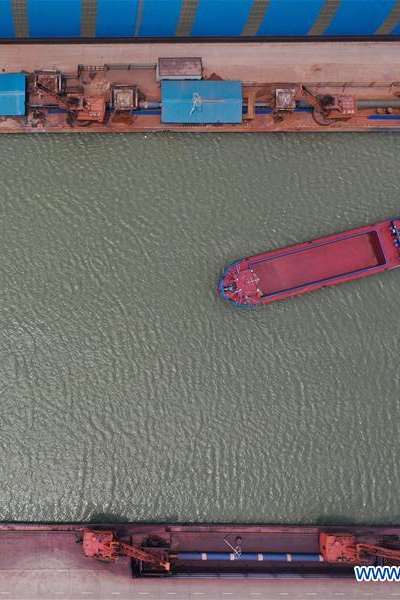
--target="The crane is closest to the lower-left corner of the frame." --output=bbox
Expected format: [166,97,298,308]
[77,523,171,570]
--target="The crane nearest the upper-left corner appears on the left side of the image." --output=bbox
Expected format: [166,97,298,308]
[33,80,106,125]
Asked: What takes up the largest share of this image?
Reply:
water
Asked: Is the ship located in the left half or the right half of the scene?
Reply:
right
